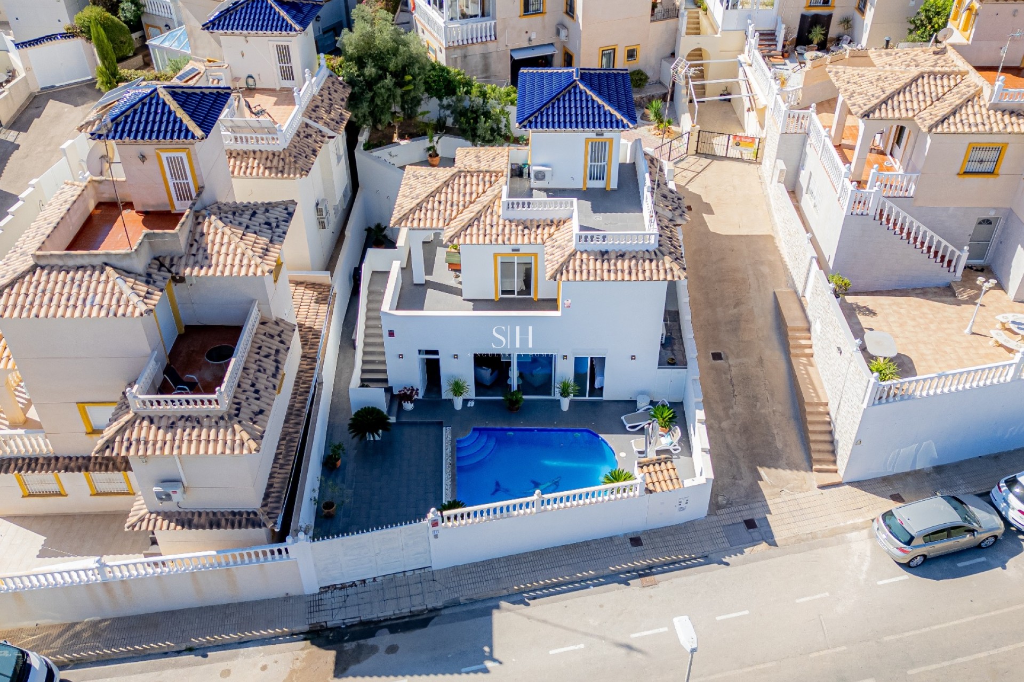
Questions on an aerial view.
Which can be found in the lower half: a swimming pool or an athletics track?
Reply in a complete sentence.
You can see a swimming pool in the lower half.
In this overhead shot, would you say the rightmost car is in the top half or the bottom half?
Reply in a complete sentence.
It is in the bottom half that the rightmost car appears.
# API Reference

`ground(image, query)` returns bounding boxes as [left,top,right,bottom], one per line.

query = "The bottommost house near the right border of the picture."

[781,45,1024,289]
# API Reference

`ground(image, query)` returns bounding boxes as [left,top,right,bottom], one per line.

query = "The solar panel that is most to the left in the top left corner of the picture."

[83,78,145,125]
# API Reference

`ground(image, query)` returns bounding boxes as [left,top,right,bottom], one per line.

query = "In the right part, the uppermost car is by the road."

[986,465,1024,526]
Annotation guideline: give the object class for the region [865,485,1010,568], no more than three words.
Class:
car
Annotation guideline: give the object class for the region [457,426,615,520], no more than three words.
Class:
swimming pool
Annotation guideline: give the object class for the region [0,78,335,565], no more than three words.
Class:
house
